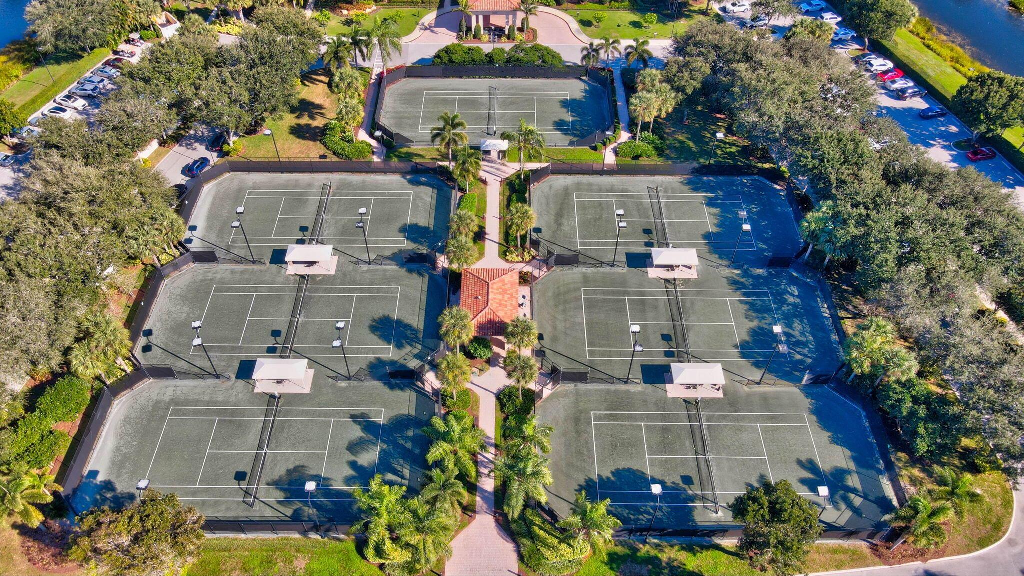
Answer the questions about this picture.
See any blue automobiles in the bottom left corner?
No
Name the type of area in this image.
sports ground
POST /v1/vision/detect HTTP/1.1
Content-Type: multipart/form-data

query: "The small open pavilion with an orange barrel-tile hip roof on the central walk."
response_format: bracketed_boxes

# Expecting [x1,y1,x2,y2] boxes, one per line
[459,268,519,350]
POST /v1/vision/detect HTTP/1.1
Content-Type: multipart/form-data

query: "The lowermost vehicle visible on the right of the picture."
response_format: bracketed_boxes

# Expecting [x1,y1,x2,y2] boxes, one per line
[964,147,997,163]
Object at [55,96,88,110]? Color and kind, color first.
white car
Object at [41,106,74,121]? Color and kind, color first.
white car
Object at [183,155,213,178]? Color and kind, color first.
blue car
